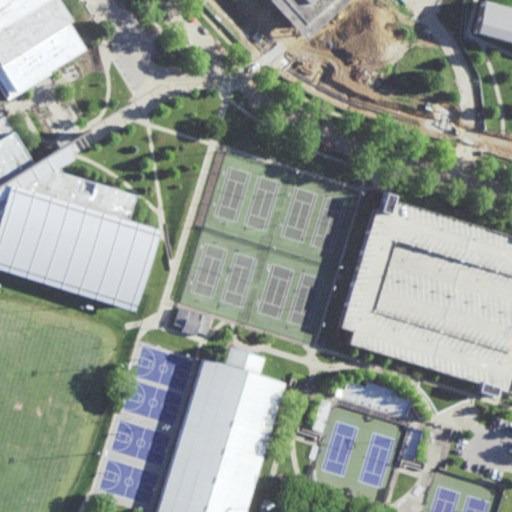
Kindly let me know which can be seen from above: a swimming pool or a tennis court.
tennis court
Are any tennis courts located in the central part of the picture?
Yes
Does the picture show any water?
No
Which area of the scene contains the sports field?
bottom left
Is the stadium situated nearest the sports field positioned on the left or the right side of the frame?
left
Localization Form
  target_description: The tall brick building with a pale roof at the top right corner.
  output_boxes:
[473,0,512,46]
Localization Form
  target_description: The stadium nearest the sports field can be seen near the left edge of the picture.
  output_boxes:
[0,188,160,312]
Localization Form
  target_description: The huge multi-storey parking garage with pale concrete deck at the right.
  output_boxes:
[338,192,512,400]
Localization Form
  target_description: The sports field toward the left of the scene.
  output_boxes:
[0,291,115,512]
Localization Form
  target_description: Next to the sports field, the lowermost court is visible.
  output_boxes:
[100,460,160,504]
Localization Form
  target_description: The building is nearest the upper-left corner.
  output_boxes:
[0,0,88,102]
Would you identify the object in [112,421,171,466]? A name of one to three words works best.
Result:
basketball court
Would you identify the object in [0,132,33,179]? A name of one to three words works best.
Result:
building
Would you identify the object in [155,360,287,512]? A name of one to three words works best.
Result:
building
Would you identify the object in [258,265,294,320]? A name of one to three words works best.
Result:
tennis court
